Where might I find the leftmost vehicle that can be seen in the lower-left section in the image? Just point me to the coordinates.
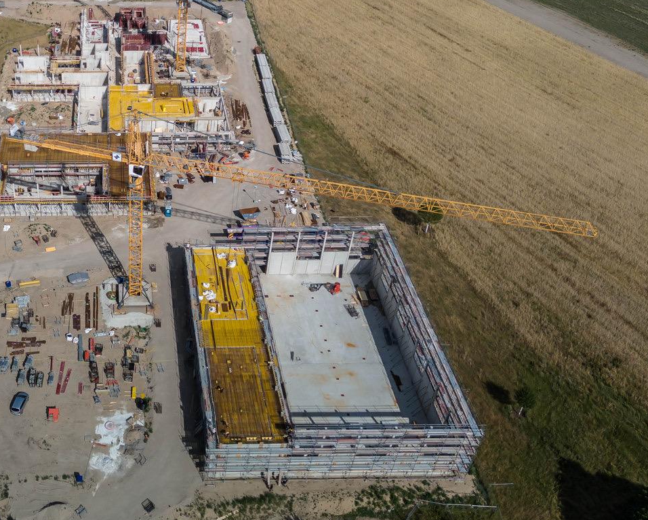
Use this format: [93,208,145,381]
[7,392,30,415]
